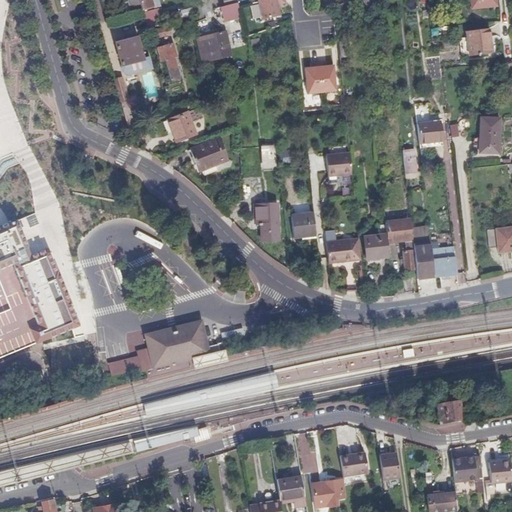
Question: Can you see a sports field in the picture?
No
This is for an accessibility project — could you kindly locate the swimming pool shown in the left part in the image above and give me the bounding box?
[143,72,158,100]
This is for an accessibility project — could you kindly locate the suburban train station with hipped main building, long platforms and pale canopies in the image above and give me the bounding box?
[0,318,512,486]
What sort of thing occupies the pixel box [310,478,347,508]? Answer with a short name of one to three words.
house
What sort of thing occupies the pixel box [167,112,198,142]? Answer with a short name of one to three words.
house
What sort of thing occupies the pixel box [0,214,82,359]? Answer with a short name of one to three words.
building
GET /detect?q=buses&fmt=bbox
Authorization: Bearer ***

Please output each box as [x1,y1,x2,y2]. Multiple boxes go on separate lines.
[172,272,196,294]
[135,228,164,250]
